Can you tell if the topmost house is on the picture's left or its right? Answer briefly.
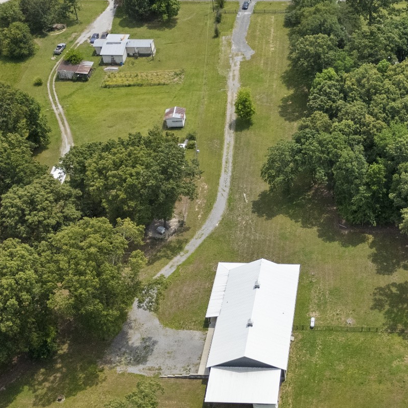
left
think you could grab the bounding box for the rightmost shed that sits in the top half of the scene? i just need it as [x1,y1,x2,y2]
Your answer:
[165,108,189,127]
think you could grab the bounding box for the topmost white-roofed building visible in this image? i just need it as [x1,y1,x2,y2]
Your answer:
[88,36,157,65]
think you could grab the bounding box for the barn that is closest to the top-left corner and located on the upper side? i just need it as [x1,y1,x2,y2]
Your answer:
[55,55,99,79]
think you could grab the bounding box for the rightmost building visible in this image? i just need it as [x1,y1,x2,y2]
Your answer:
[204,258,300,408]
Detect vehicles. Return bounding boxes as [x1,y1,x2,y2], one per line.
[101,28,115,37]
[92,29,105,38]
[50,42,71,54]
[242,0,250,8]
